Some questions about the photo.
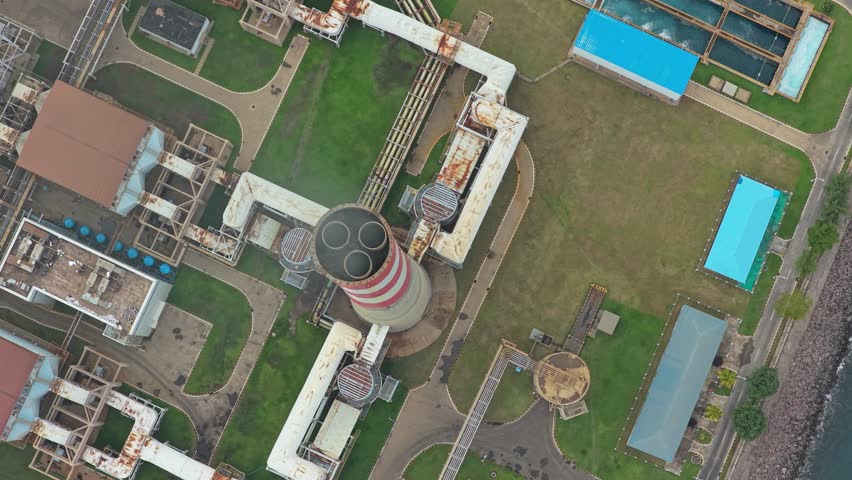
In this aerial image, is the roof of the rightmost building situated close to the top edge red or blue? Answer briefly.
blue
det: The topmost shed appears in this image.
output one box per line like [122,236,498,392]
[138,0,210,54]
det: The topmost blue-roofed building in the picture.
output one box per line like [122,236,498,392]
[573,8,699,101]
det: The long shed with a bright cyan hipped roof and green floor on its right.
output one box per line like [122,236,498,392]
[704,176,780,284]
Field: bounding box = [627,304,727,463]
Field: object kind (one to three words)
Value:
shed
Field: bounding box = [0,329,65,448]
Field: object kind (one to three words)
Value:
building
